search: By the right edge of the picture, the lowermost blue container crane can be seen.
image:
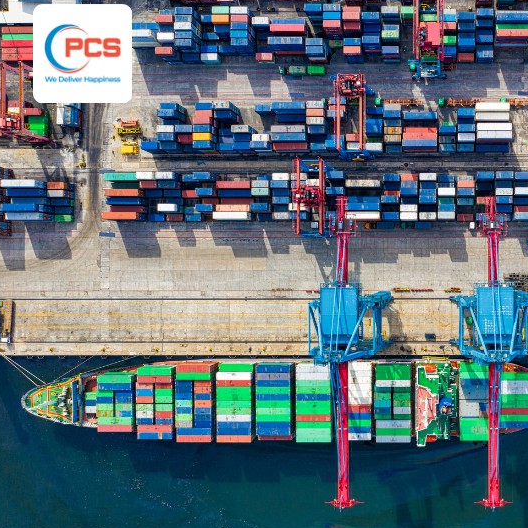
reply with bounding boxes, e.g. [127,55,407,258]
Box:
[449,191,528,514]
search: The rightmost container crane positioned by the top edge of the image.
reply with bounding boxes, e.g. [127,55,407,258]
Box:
[409,0,450,77]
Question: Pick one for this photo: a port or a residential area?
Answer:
port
